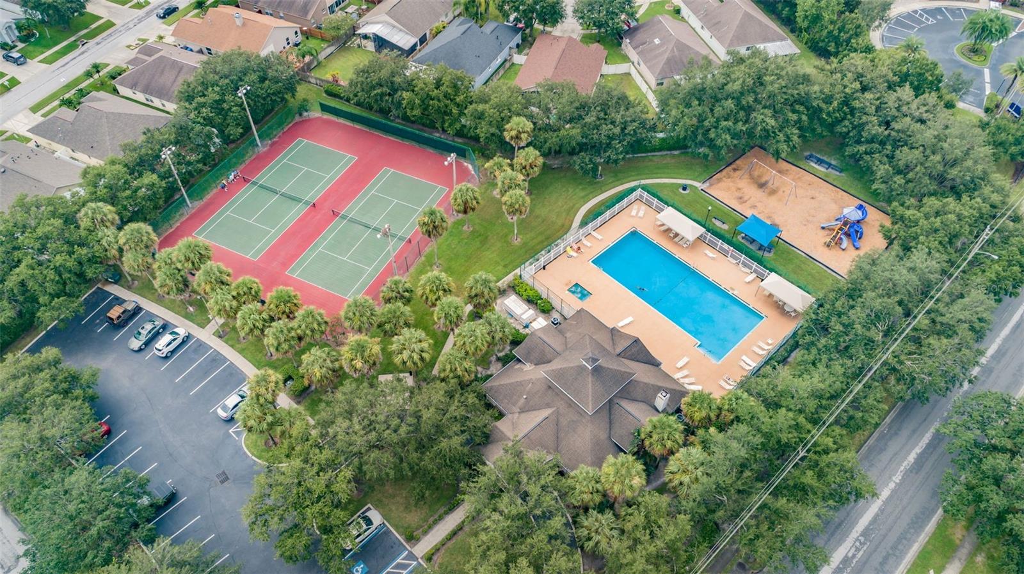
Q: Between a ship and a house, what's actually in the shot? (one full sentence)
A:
It is a house that can be seen here.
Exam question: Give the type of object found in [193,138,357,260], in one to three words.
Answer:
tennis court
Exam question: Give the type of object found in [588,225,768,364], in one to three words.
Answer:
swimming pool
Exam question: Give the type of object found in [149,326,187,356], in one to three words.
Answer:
car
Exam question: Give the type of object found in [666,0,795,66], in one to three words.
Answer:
house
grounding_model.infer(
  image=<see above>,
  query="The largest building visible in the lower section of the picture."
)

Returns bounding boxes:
[481,307,689,479]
